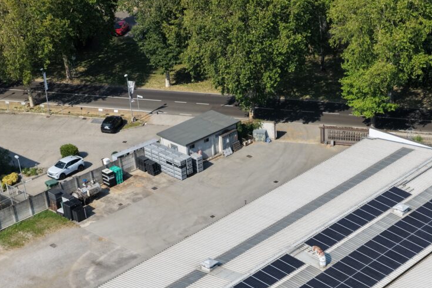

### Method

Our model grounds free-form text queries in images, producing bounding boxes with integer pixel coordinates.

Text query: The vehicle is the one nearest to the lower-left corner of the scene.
[46,153,86,179]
